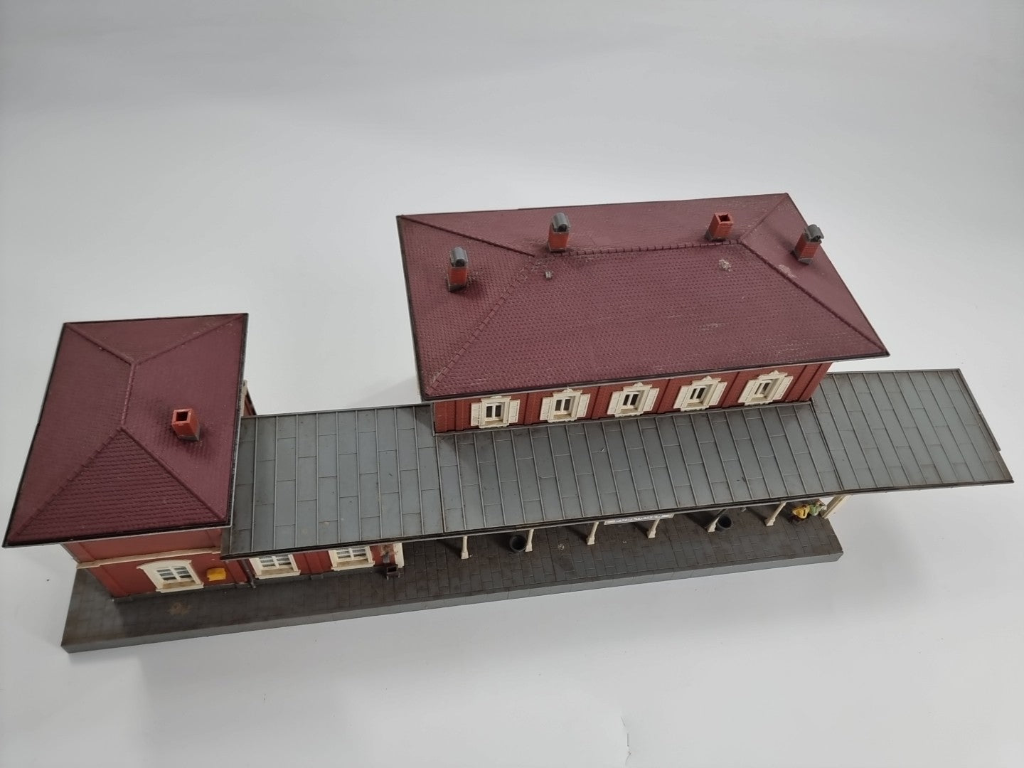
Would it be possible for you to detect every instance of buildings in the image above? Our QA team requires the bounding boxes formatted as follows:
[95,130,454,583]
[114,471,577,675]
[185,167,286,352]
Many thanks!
[3,313,256,604]
[399,192,888,433]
